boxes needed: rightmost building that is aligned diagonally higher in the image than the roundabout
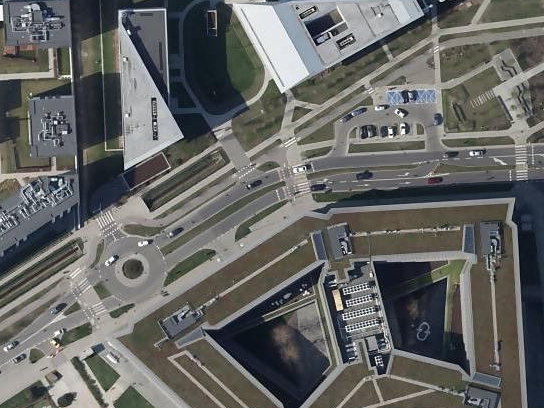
[128,152,170,192]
